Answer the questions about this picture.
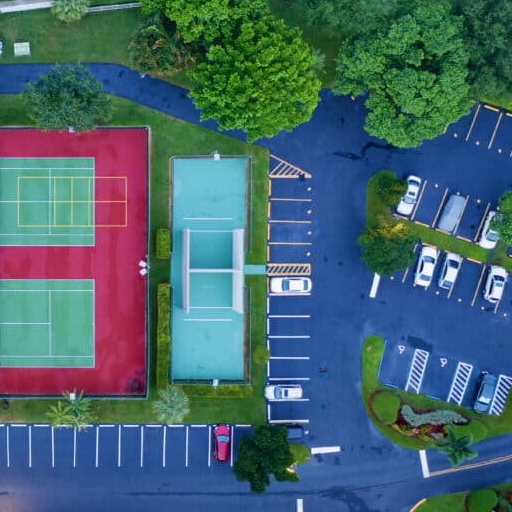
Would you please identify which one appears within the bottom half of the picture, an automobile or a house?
automobile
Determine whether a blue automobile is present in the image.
Yes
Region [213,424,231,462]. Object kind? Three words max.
car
